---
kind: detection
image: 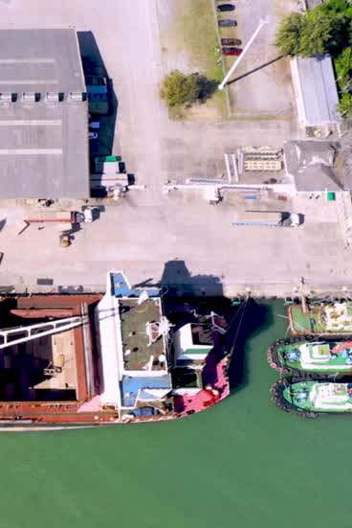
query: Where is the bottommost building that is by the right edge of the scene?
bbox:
[281,140,351,196]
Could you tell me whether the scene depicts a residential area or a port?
port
